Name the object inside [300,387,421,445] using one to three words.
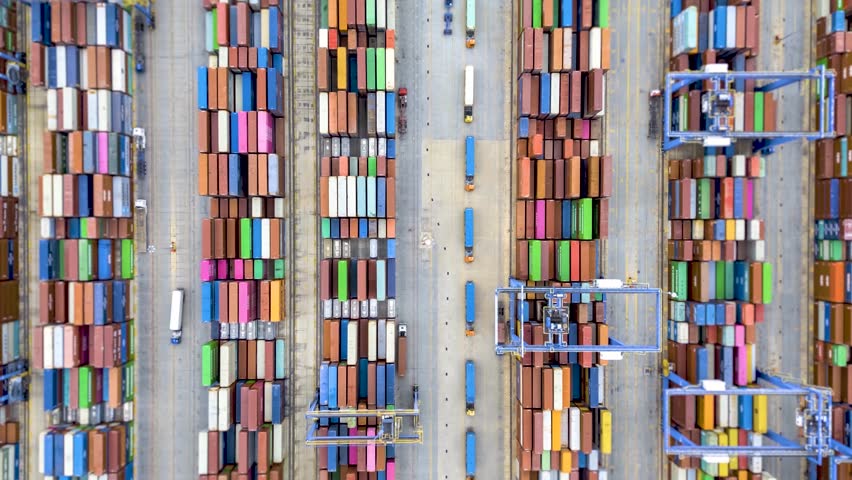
container crane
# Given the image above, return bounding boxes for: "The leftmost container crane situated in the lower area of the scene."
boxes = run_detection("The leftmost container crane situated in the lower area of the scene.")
[0,350,32,404]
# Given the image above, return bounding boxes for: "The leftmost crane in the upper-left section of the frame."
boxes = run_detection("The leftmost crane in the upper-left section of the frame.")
[0,43,30,97]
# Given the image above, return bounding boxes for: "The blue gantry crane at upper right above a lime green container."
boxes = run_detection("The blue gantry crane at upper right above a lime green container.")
[661,58,843,162]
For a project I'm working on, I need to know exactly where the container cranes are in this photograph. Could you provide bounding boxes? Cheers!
[0,43,30,97]
[660,359,840,473]
[493,268,666,366]
[661,58,843,162]
[0,0,153,30]
[0,350,32,404]
[300,387,421,445]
